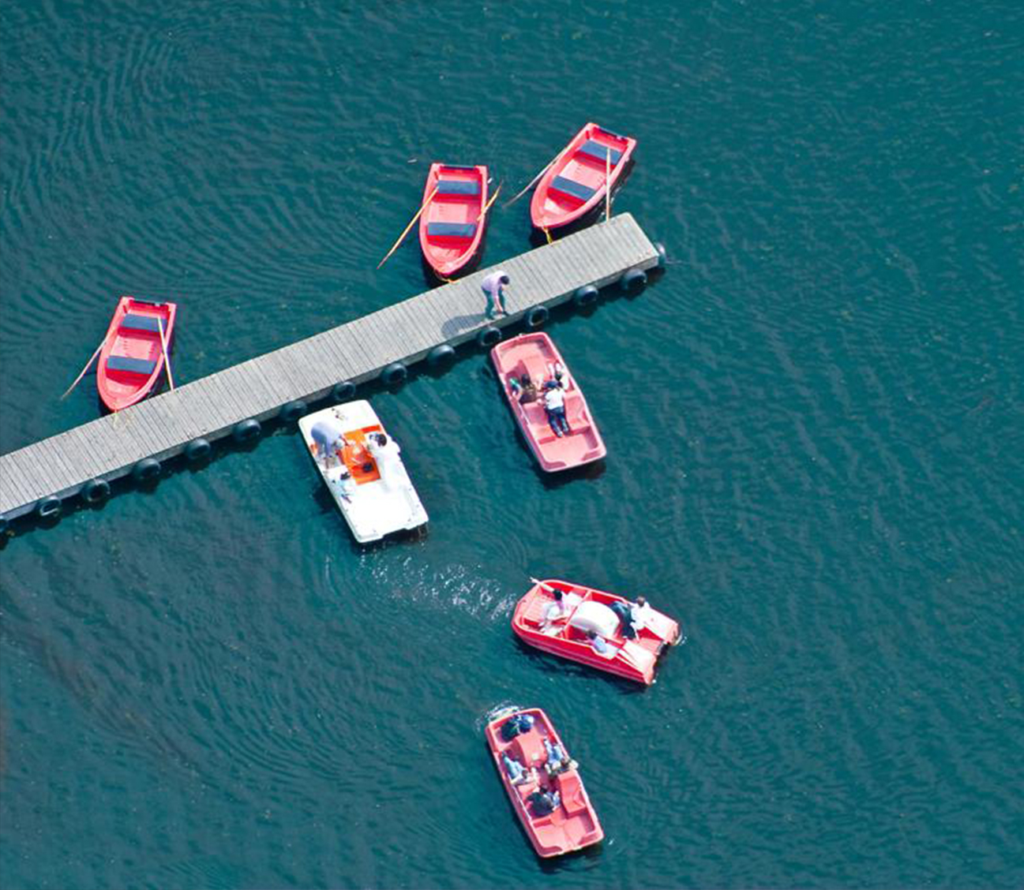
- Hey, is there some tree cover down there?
No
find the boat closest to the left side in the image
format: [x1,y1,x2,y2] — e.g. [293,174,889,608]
[94,298,176,413]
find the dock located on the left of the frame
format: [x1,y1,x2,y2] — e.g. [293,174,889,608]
[0,211,658,522]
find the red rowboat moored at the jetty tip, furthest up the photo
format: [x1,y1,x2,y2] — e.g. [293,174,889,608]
[532,126,634,233]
